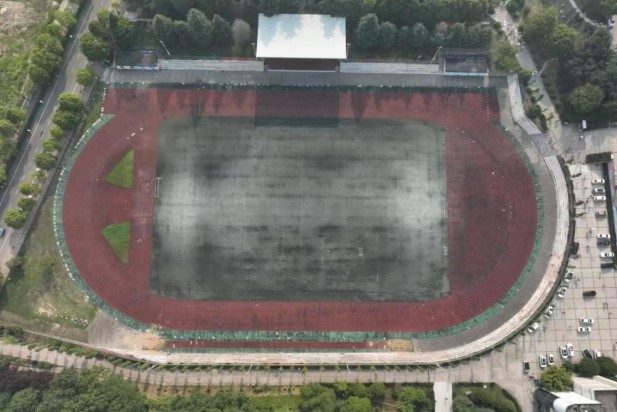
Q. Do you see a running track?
Yes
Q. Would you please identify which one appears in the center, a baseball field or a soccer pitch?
soccer pitch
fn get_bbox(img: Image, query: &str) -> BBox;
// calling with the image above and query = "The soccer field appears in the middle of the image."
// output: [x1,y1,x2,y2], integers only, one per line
[151,117,448,301]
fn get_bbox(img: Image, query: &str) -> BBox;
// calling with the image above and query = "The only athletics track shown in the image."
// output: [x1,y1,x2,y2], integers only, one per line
[55,83,544,340]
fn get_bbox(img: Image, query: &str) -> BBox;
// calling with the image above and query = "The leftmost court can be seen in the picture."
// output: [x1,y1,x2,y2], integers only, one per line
[111,49,160,70]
